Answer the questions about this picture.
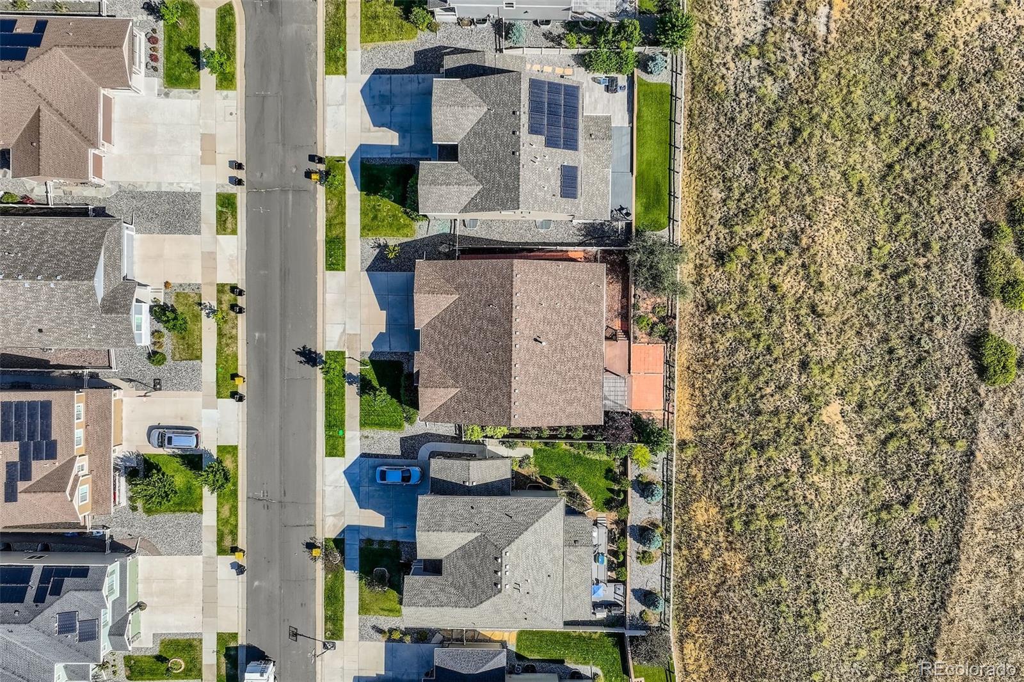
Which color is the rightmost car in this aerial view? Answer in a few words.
blue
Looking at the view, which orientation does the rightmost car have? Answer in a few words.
from side to side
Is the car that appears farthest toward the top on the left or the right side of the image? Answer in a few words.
left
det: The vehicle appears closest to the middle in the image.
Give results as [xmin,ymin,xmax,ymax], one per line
[378,464,423,486]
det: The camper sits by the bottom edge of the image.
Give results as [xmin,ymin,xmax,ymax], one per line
[245,660,279,682]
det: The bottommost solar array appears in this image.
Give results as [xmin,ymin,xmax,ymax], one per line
[57,612,98,644]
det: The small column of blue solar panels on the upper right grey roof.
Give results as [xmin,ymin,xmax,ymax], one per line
[561,165,578,198]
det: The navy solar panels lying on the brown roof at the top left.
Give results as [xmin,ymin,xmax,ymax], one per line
[0,19,48,60]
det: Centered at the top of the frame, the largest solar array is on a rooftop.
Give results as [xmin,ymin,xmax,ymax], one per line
[529,78,579,150]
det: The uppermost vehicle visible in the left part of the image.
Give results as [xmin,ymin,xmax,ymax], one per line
[151,428,201,451]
